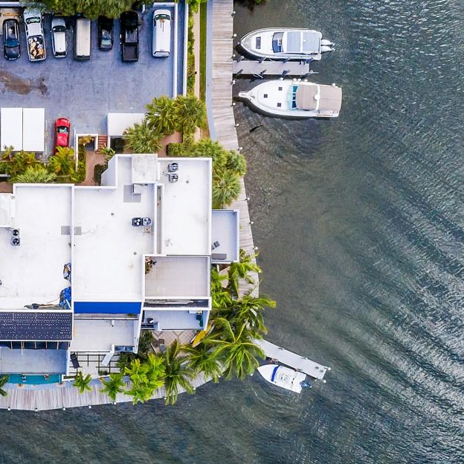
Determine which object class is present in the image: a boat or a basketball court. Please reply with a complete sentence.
The image shows a boat.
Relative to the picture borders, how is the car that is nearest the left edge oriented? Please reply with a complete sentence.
From this overhead view, the car that is nearest the left edge appears to run from top to bottom.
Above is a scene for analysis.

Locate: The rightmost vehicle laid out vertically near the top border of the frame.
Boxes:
[151,9,173,58]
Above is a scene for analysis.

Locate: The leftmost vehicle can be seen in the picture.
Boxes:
[1,19,21,62]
